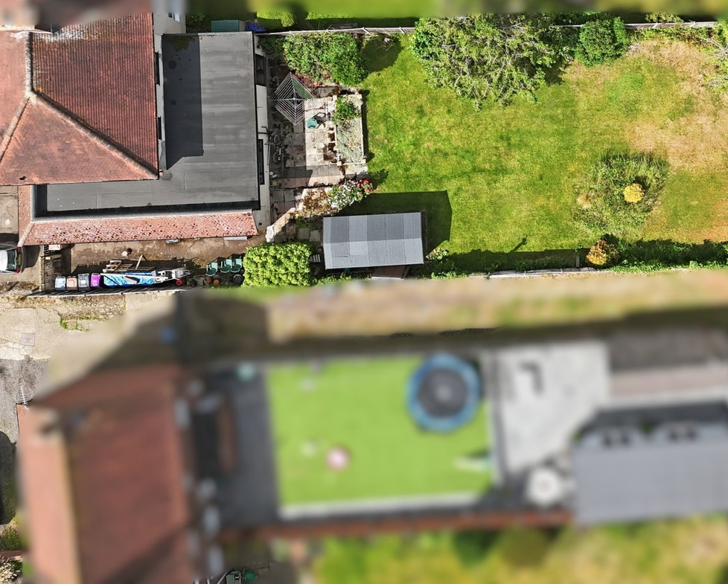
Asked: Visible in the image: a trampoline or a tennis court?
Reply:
trampoline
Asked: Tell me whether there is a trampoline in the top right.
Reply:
No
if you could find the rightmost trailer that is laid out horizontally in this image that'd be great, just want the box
[100,263,194,290]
